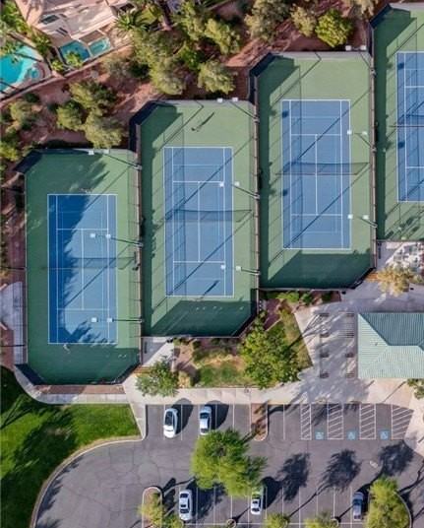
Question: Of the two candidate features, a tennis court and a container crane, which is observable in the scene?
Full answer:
The image shows a tennis court.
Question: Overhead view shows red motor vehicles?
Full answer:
No, this view has no red motor vehicle in it.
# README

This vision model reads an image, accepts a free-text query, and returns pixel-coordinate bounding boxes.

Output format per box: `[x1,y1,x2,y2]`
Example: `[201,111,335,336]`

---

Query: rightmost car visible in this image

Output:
[350,489,364,521]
